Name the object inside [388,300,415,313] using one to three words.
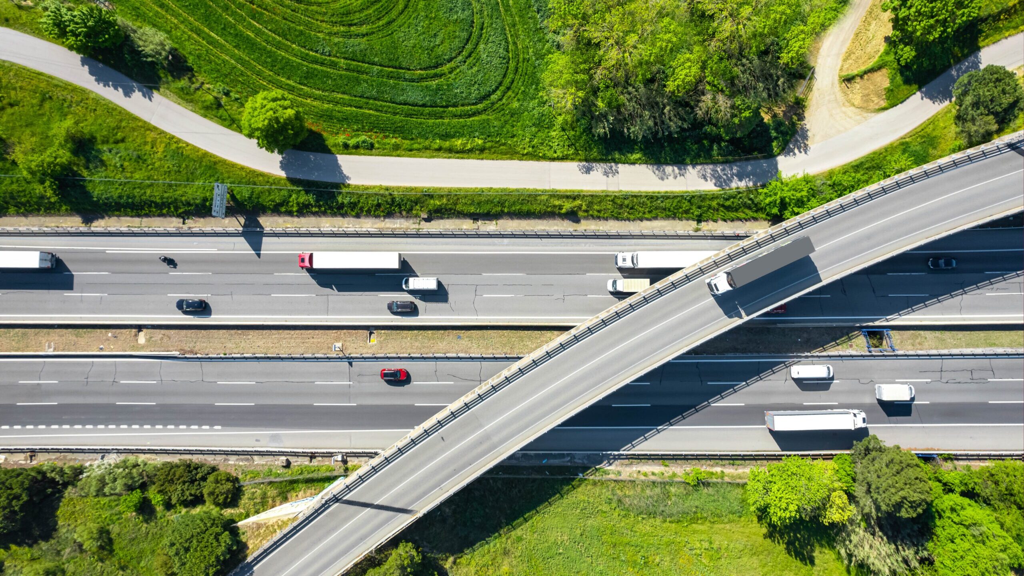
vehicle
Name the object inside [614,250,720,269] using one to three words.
vehicle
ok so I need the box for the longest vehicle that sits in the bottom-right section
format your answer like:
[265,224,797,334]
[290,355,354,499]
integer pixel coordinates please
[766,411,868,433]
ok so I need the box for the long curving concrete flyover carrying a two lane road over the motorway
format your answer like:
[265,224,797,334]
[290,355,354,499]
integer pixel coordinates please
[232,131,1024,576]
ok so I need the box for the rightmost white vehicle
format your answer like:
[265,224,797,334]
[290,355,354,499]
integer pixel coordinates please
[872,384,911,401]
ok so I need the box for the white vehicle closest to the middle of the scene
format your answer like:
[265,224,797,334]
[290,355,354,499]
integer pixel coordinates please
[404,276,439,291]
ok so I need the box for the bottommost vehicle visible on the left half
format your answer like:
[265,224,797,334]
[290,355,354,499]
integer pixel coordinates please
[381,368,408,380]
